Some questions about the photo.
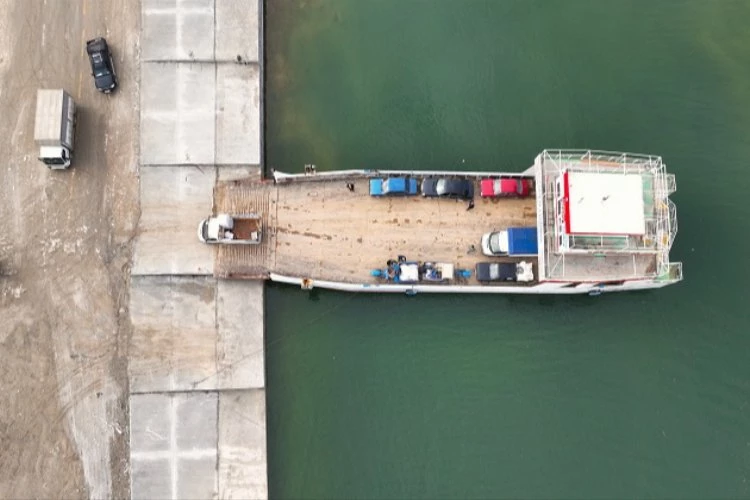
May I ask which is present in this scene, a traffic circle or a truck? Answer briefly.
truck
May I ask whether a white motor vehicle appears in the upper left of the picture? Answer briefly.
Yes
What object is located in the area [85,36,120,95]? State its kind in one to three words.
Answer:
truck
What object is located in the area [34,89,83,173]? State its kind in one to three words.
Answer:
truck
